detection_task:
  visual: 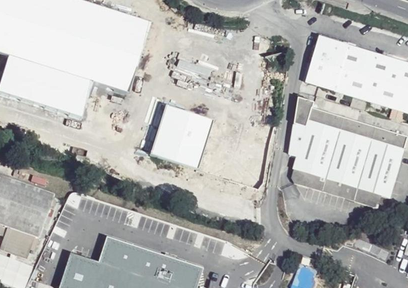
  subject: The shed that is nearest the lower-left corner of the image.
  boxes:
[0,256,33,288]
